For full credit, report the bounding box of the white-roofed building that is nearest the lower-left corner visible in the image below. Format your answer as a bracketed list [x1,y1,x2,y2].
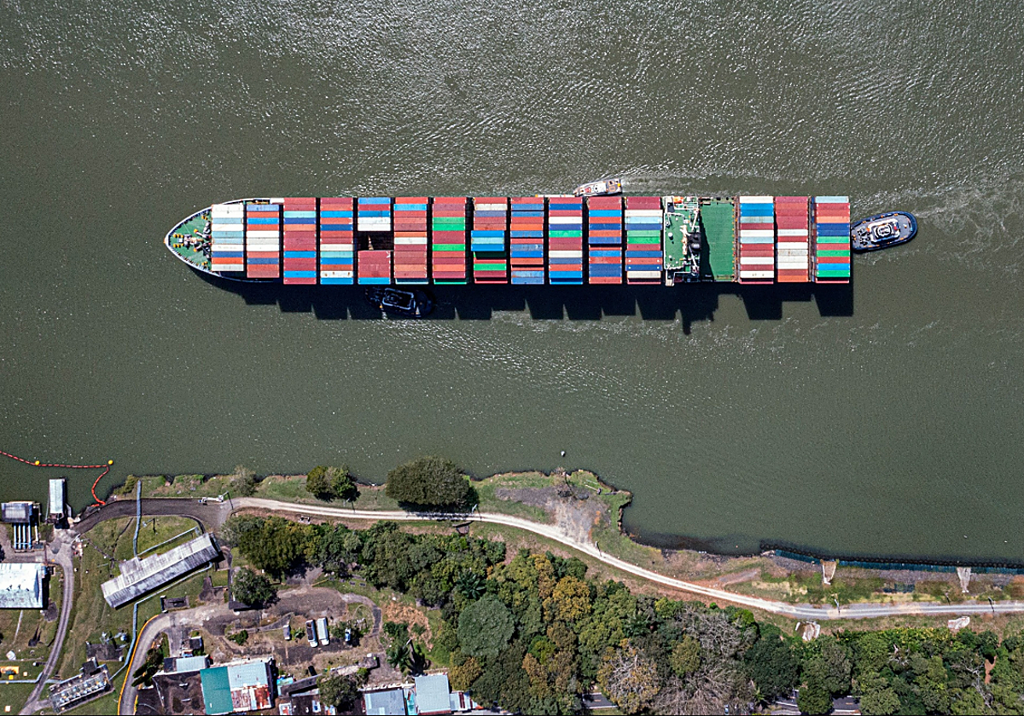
[0,560,55,608]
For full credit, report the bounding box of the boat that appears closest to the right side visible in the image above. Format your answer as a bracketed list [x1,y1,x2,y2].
[850,210,921,252]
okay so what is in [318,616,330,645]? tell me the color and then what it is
white vehicle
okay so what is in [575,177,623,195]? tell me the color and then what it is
white boat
